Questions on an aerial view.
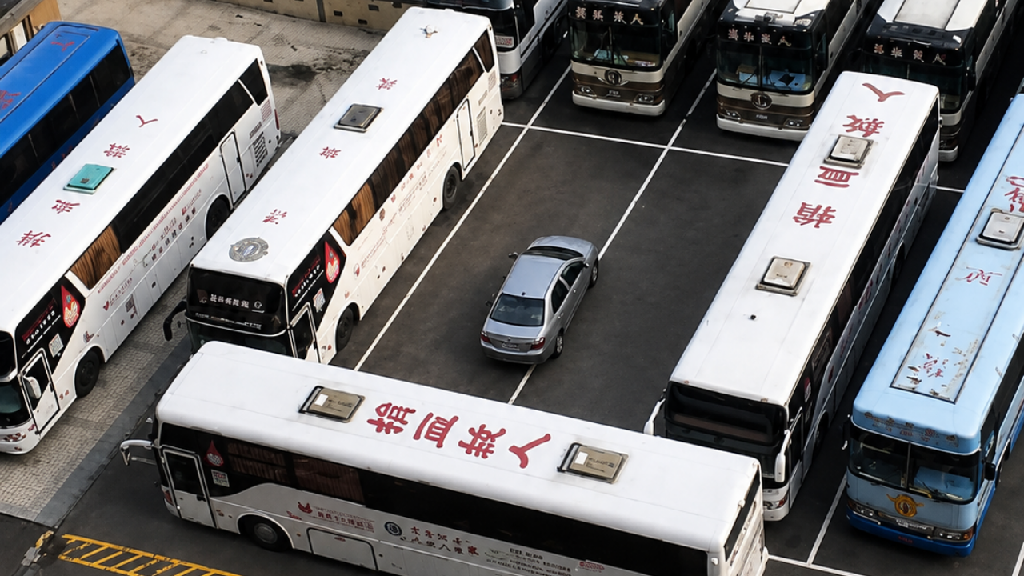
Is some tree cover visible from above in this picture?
No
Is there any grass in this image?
No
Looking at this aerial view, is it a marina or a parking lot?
parking lot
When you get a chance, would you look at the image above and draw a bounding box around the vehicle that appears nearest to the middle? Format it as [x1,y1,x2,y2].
[477,235,595,367]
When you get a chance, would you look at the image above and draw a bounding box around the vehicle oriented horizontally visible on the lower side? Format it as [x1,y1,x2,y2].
[123,345,767,576]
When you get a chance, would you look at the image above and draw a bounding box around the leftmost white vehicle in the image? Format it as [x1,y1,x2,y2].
[0,32,280,443]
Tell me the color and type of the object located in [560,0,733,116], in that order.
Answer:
black bus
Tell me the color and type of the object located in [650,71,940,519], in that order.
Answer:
white bus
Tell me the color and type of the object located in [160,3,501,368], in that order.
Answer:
white bus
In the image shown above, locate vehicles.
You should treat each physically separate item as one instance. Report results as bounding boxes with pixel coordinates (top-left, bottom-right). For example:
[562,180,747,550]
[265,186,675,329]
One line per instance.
[0,20,138,233]
[650,71,940,519]
[477,235,595,367]
[160,3,501,368]
[705,0,884,137]
[560,0,733,116]
[854,0,1021,159]
[123,345,767,576]
[436,0,549,92]
[0,32,280,443]
[831,101,1024,549]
